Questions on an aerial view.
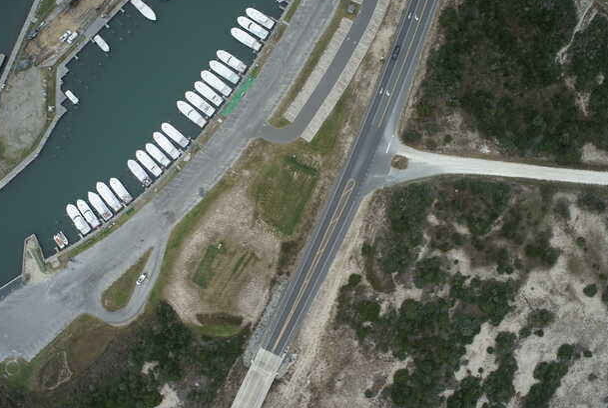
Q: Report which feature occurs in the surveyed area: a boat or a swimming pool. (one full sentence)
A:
Looking from above, you can make out a boat.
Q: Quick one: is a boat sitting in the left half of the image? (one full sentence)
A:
Yes, a boat is visible in the left half of the image.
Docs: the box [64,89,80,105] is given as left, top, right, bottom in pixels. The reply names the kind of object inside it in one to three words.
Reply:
boat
